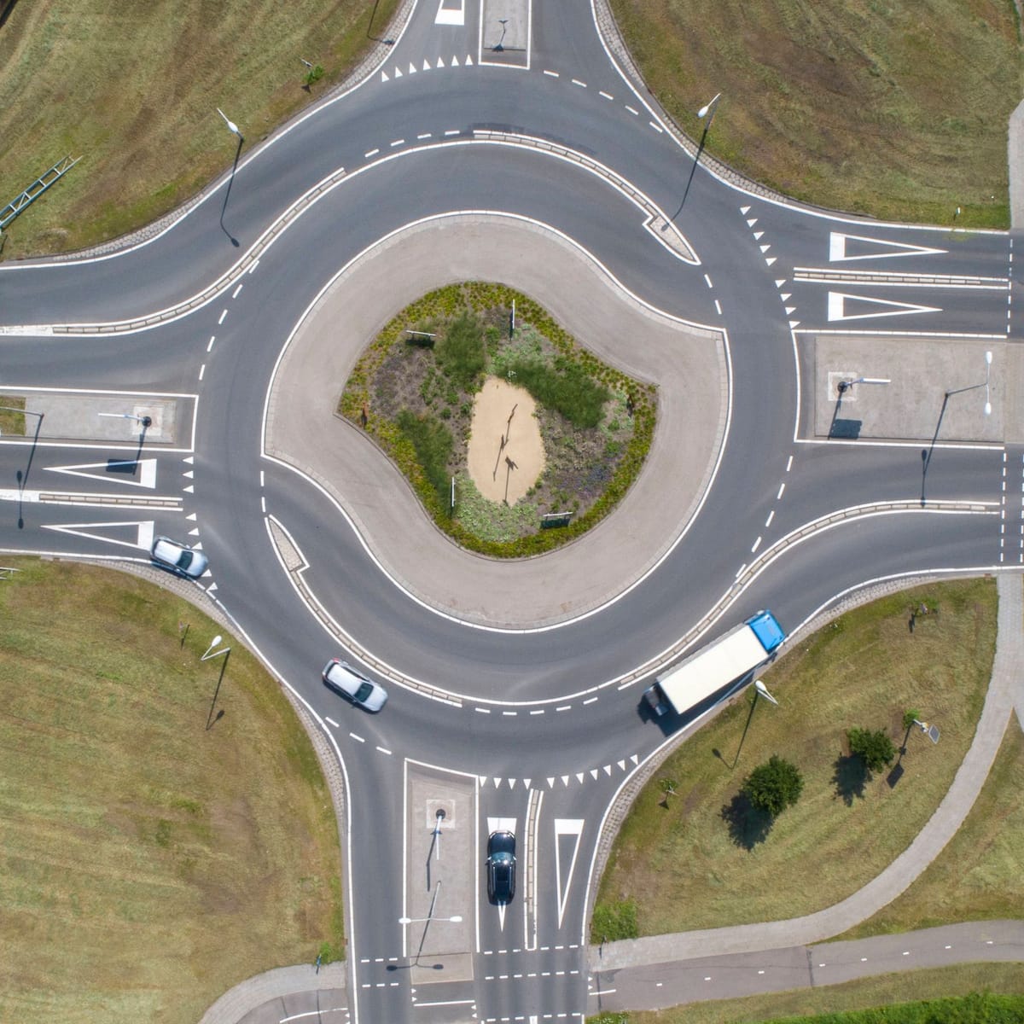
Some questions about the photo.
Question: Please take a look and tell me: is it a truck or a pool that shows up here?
truck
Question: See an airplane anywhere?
No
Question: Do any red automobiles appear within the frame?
No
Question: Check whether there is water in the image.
No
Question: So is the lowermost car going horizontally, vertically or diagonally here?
vertically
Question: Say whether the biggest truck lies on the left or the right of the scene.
right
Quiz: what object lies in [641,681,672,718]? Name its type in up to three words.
work vehicle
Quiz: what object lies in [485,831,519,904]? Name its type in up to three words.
car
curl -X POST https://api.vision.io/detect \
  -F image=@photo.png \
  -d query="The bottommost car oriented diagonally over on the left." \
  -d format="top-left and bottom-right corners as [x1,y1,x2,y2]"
[322,657,387,709]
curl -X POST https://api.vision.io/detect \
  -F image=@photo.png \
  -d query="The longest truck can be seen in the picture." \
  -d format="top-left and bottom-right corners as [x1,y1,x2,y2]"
[655,609,785,714]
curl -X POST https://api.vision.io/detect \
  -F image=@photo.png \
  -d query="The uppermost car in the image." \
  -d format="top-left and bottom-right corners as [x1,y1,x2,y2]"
[147,534,207,575]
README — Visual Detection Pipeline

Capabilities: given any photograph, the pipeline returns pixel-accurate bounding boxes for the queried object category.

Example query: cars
[485,831,519,904]
[147,534,207,575]
[322,657,387,709]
